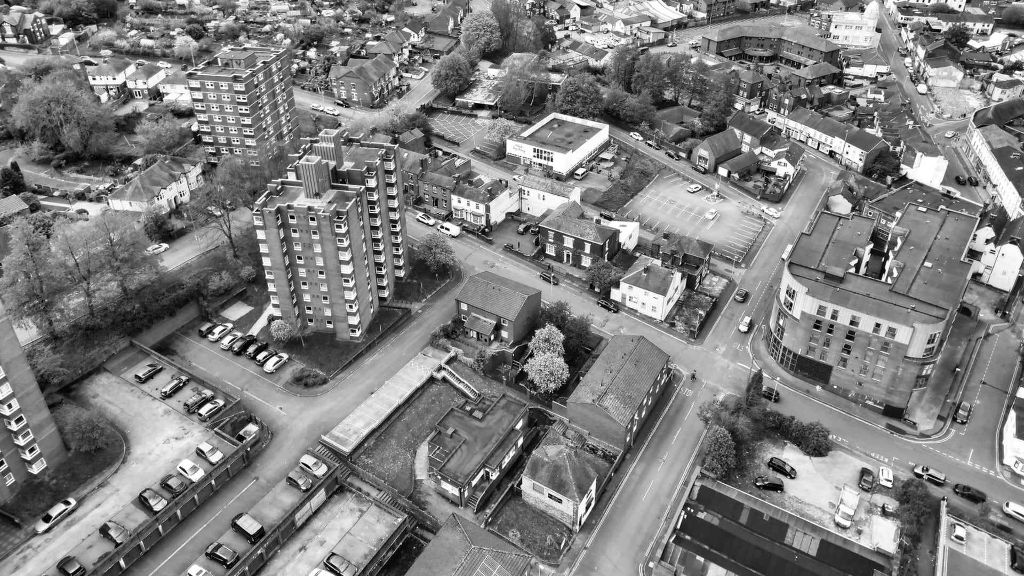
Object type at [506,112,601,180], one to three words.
building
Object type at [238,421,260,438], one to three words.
vehicle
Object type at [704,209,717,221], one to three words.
vehicle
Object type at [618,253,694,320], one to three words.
house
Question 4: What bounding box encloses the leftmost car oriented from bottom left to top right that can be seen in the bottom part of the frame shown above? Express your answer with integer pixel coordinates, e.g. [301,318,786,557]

[39,501,73,531]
